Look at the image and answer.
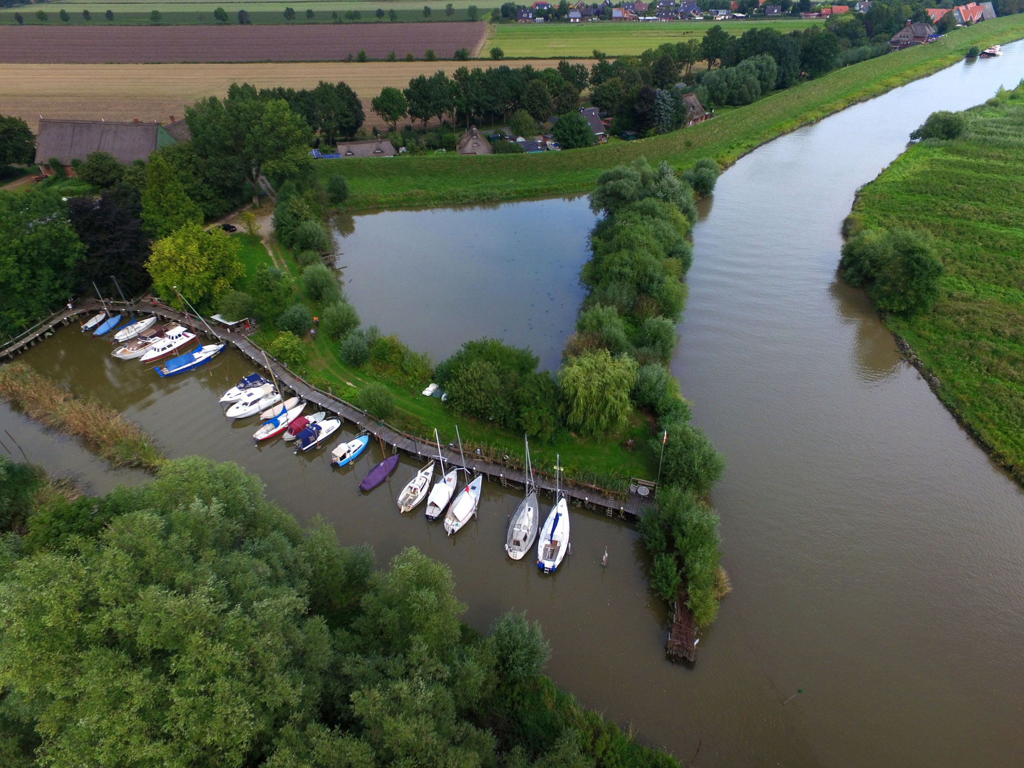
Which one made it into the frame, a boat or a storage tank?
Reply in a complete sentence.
The image shows a boat.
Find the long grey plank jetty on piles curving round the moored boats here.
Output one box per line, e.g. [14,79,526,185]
[0,290,660,521]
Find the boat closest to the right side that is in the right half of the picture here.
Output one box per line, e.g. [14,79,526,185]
[979,44,1007,61]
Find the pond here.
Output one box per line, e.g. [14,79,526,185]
[332,194,599,379]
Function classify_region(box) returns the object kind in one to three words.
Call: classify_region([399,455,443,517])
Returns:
boat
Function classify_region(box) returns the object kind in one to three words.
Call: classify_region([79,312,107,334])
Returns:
boat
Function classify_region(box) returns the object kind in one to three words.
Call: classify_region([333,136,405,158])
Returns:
house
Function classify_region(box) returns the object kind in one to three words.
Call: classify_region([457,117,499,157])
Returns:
house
